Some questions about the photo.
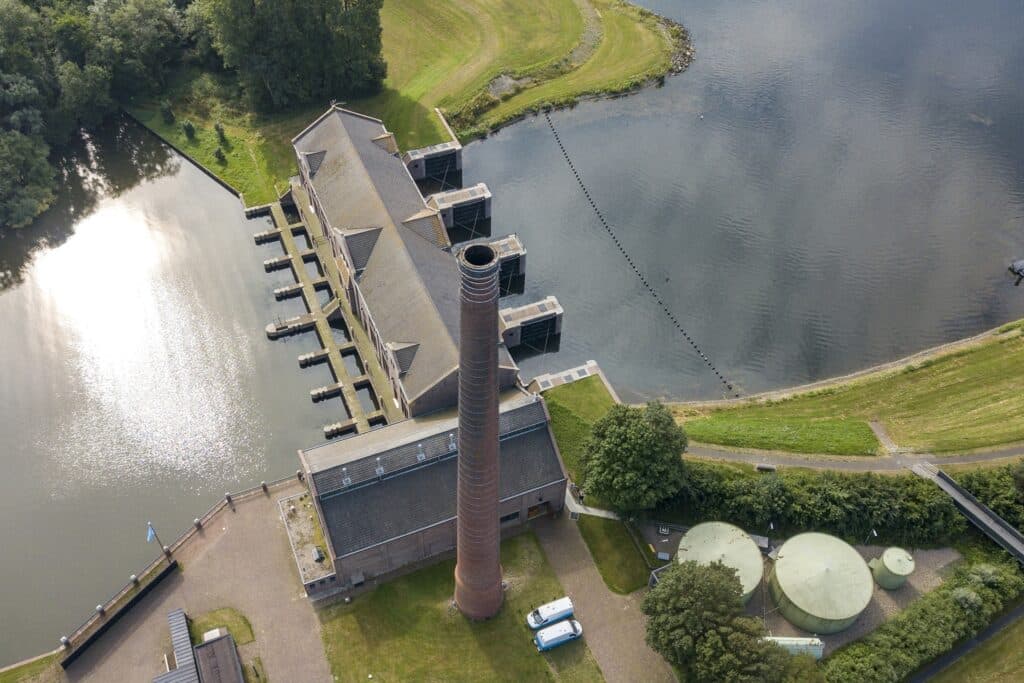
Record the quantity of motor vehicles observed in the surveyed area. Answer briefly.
2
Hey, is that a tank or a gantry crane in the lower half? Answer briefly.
tank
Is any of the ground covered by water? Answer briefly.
Yes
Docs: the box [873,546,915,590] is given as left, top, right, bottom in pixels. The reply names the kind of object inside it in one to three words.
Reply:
storage tank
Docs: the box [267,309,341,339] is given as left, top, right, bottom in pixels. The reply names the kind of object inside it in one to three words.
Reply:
pier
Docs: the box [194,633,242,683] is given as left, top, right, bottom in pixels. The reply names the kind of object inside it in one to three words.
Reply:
shed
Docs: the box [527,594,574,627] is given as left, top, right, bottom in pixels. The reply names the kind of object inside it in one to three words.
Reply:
van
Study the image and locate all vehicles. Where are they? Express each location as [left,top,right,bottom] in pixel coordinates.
[536,617,583,648]
[527,594,574,627]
